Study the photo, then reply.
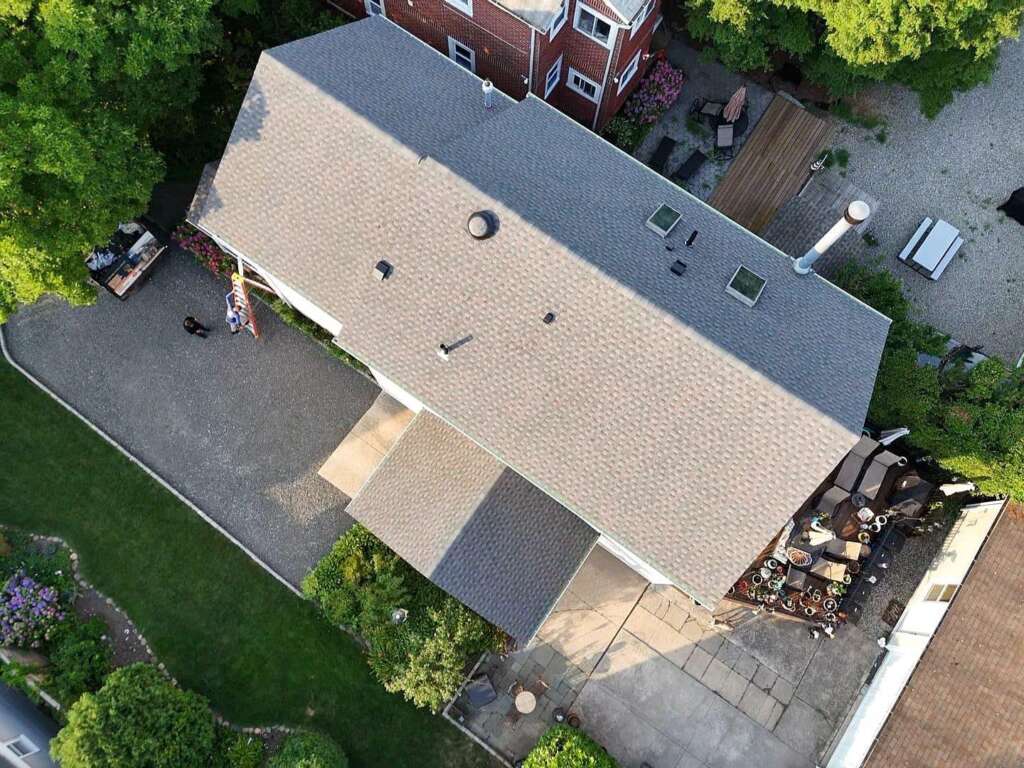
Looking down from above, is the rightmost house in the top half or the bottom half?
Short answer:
bottom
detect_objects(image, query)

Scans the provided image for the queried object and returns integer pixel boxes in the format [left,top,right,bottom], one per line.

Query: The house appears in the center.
[187,11,892,646]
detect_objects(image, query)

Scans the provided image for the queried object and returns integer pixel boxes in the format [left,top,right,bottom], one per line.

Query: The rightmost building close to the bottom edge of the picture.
[814,495,1024,768]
